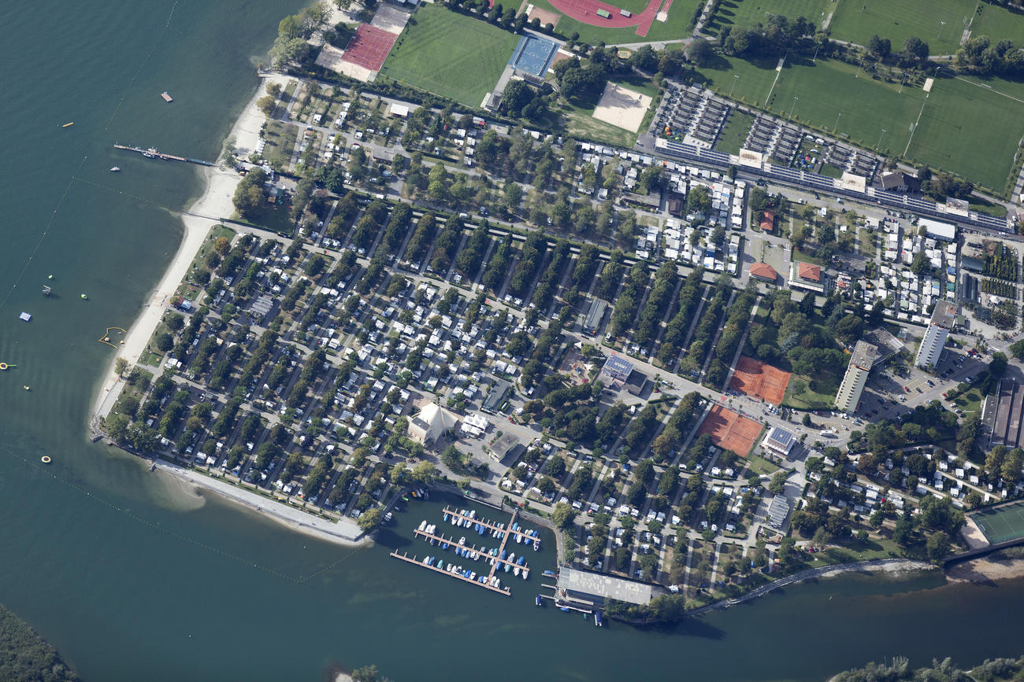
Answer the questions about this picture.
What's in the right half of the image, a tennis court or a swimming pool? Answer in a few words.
tennis court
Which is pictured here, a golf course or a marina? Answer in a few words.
marina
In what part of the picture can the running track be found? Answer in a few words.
top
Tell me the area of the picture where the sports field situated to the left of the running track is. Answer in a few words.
top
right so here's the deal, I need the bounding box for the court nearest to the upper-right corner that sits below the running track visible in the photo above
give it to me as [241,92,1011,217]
[593,82,652,132]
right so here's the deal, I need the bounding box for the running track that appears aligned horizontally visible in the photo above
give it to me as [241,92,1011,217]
[549,0,672,36]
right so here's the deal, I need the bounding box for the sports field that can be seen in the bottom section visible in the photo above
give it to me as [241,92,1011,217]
[971,502,1024,544]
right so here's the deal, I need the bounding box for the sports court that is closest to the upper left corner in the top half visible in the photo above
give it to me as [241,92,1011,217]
[342,23,398,71]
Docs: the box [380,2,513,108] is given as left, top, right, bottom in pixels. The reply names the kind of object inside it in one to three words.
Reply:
sports field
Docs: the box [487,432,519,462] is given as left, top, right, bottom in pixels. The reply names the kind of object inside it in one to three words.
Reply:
building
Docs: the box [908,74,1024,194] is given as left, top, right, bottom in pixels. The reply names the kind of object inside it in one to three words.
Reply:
sports field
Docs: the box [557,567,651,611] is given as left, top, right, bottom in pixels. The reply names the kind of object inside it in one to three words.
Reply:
shed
